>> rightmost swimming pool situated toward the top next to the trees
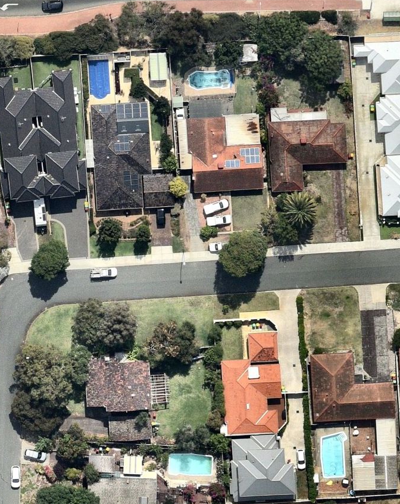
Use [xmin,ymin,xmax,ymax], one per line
[189,69,234,91]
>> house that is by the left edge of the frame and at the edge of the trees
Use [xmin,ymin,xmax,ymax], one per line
[0,70,87,203]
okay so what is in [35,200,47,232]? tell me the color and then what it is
white vehicle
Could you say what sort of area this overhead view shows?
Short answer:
residential area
